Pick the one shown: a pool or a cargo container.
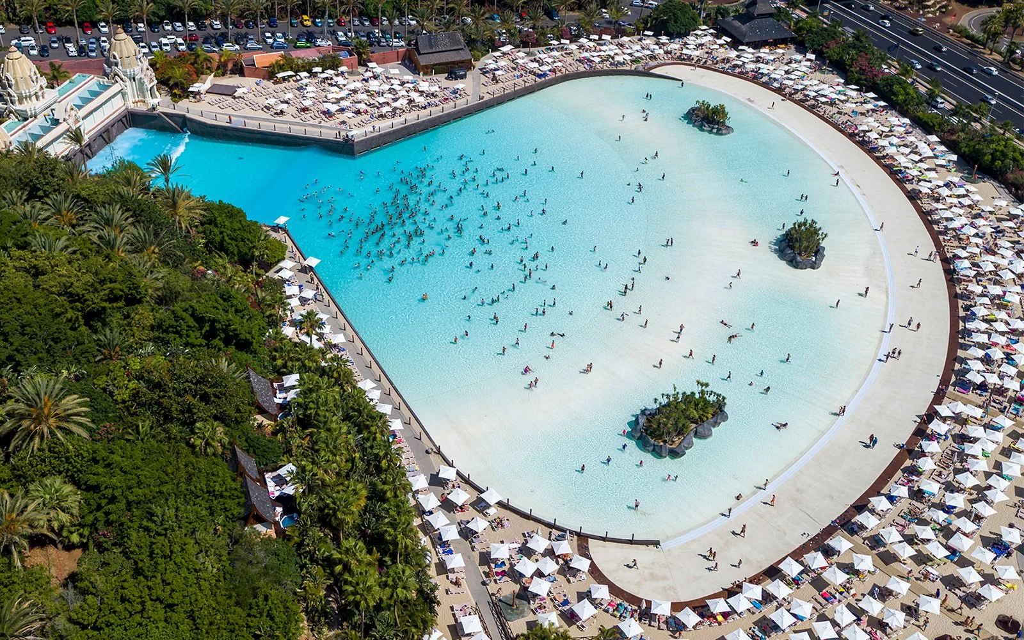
pool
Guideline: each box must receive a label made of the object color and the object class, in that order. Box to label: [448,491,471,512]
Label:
white umbrella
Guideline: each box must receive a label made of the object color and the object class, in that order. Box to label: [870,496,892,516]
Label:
white umbrella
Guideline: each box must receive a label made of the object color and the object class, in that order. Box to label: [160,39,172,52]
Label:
white vehicle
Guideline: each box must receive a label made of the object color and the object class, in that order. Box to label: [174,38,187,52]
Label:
white vehicle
